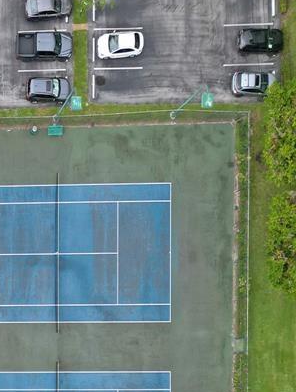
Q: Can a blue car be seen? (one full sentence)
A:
No, I can see no blue car in this picture.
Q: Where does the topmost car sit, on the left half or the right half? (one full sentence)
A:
You can find the topmost car on the left side of the picture.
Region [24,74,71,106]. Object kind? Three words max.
car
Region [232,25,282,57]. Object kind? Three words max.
car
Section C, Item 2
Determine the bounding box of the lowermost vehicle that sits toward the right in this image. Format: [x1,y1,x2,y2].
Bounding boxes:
[229,68,279,100]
